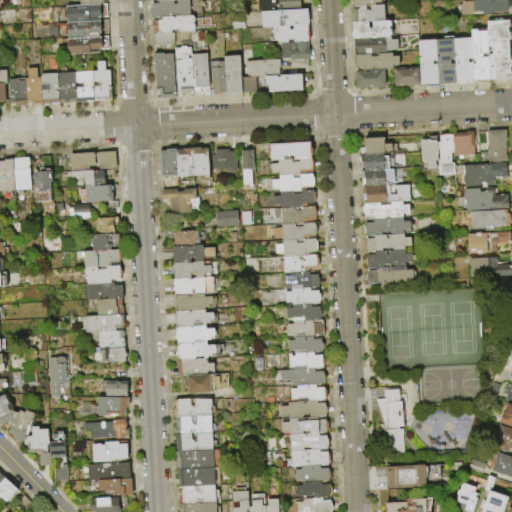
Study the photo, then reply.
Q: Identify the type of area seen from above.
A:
residential area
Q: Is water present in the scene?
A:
No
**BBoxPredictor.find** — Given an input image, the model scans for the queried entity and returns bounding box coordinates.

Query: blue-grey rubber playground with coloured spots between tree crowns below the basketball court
[412,412,474,450]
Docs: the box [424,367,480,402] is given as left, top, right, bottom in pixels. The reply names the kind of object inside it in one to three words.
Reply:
basketball court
